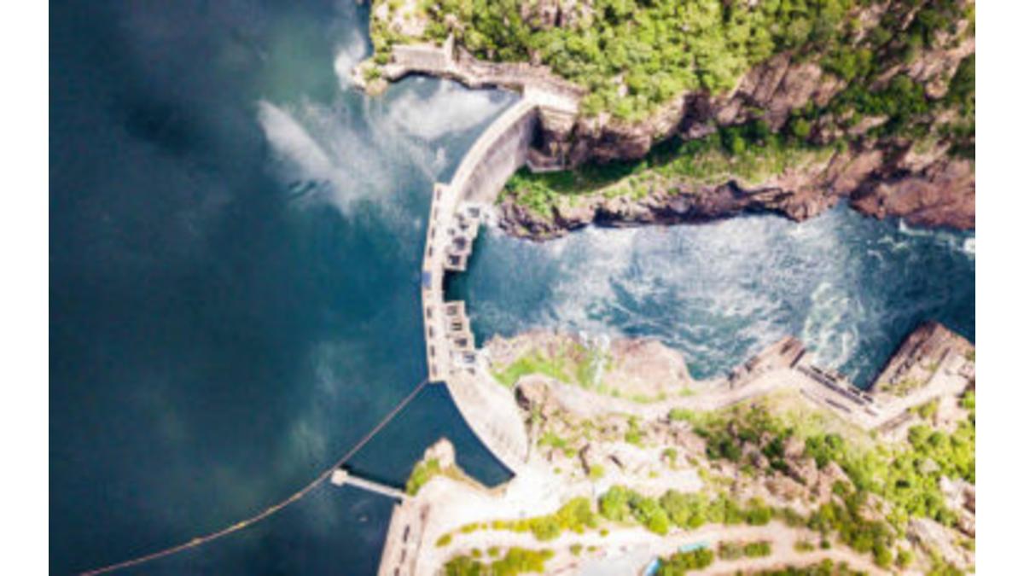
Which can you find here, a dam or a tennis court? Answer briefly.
dam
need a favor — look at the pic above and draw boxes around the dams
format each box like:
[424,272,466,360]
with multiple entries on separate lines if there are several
[422,98,538,475]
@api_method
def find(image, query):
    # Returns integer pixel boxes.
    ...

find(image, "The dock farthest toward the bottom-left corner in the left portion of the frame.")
[331,467,410,501]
